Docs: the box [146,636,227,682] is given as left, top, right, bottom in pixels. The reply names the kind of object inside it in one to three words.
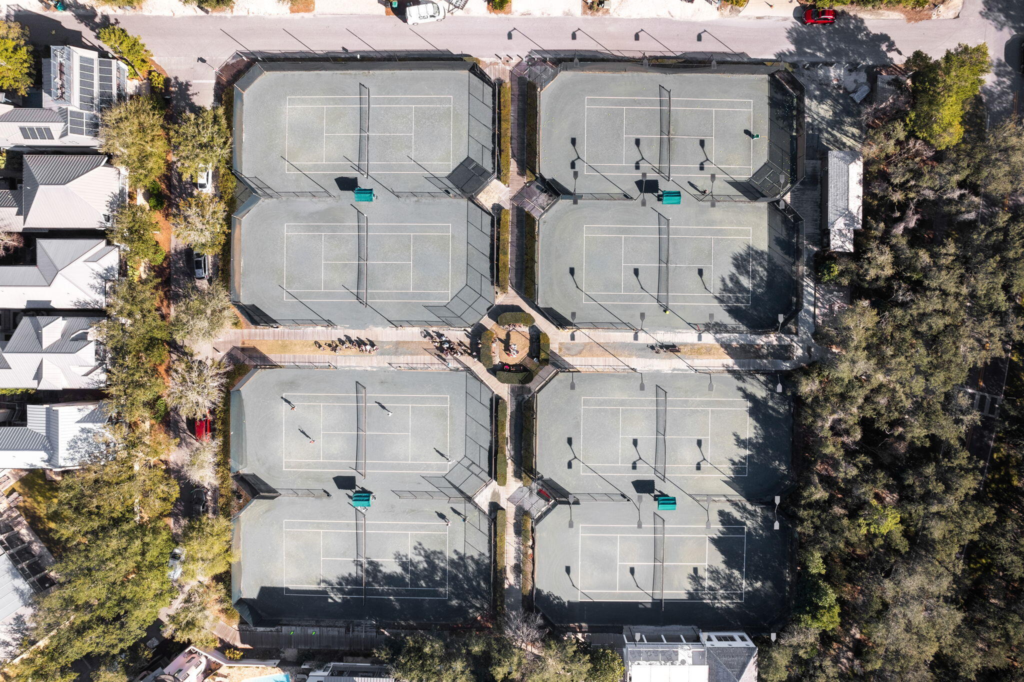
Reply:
house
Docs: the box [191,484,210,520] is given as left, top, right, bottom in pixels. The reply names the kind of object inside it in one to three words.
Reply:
vehicle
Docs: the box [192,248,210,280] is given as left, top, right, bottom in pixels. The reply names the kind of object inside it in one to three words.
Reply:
car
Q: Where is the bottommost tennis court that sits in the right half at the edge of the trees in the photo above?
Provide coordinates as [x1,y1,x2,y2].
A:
[536,501,792,626]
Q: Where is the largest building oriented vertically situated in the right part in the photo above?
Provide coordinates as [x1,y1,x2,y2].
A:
[823,151,862,252]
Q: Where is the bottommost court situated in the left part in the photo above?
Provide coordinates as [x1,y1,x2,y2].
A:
[241,498,491,625]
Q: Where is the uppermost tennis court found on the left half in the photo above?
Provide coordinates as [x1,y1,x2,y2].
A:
[243,71,496,197]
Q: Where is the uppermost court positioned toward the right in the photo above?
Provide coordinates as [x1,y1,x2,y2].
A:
[541,73,795,199]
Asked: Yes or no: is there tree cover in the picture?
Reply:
Yes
